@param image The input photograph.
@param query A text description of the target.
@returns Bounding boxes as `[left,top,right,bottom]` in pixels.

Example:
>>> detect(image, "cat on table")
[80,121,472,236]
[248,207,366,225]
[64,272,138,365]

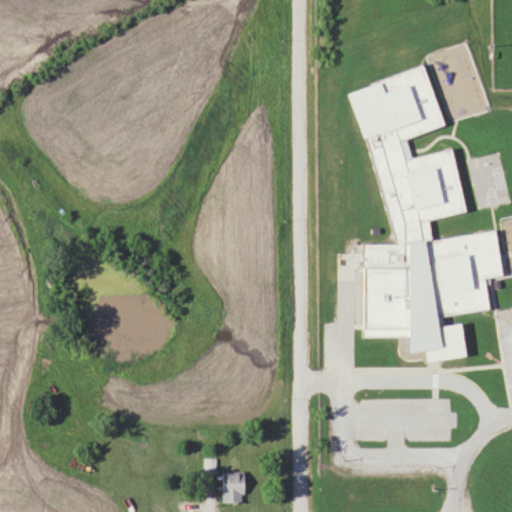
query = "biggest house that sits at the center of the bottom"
[222,473,246,507]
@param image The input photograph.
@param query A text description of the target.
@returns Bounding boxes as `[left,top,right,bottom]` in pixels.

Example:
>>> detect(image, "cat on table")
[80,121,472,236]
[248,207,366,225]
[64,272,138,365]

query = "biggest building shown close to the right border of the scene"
[348,64,504,364]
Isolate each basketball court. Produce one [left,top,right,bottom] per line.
[469,153,510,210]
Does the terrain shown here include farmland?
Yes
